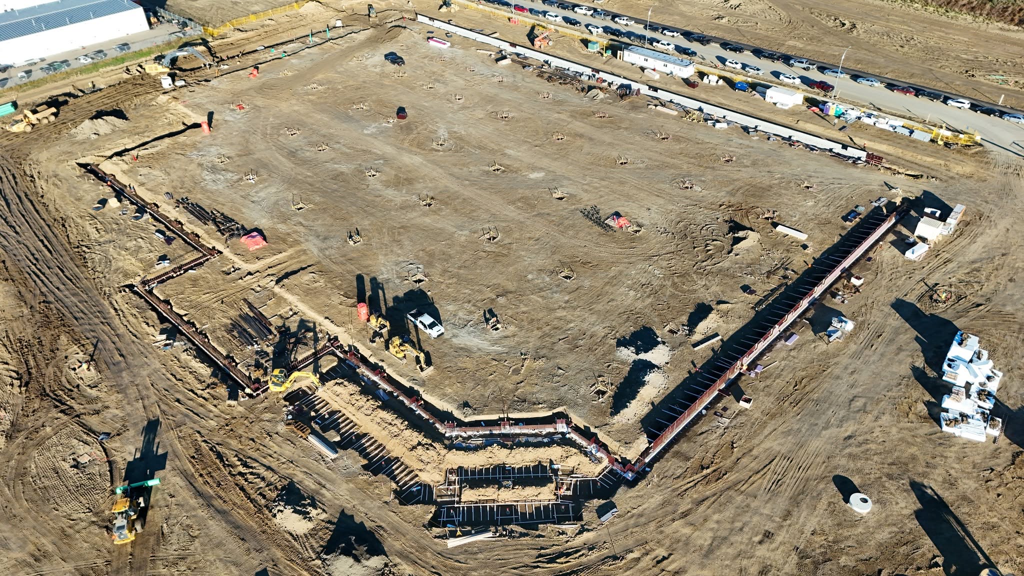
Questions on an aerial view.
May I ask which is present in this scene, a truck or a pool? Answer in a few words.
truck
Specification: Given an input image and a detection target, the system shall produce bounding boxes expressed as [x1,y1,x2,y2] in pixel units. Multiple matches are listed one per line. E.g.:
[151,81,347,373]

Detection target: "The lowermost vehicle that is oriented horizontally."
[267,369,328,397]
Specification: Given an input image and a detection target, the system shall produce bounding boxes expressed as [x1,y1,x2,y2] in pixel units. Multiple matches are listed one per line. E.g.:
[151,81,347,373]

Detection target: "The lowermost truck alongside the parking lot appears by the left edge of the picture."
[0,100,55,135]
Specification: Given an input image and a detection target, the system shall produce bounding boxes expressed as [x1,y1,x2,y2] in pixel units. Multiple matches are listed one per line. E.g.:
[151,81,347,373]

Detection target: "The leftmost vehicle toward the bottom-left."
[107,487,149,546]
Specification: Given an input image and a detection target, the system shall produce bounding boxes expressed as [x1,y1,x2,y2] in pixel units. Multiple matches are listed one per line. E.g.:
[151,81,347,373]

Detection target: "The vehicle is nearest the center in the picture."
[405,306,445,339]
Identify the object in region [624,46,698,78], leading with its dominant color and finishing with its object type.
white trailer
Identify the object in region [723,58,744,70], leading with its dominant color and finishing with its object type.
white vehicle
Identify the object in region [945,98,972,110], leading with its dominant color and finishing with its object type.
white vehicle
